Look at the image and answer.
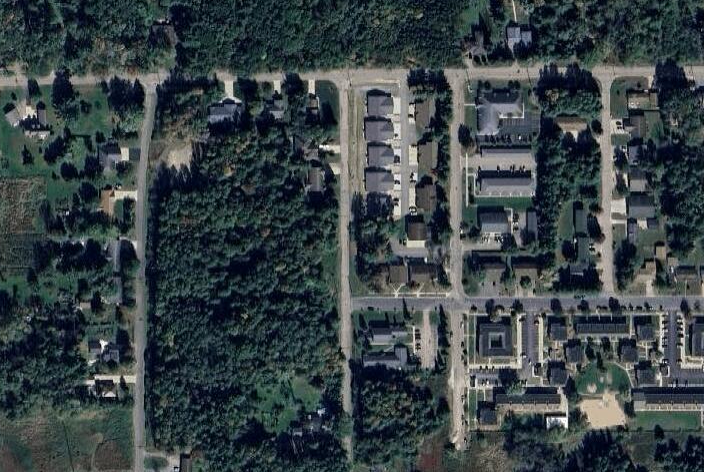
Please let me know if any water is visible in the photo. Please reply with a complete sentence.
No, no water is visible.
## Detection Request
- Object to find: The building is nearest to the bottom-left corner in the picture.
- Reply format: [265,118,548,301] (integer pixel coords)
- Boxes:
[90,380,114,395]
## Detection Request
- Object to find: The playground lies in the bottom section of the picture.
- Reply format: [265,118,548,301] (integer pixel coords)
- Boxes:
[580,392,625,427]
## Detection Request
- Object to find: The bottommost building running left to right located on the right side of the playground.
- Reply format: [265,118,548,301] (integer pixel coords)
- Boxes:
[633,391,704,405]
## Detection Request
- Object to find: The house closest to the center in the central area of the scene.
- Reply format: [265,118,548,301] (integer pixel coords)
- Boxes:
[368,197,393,218]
